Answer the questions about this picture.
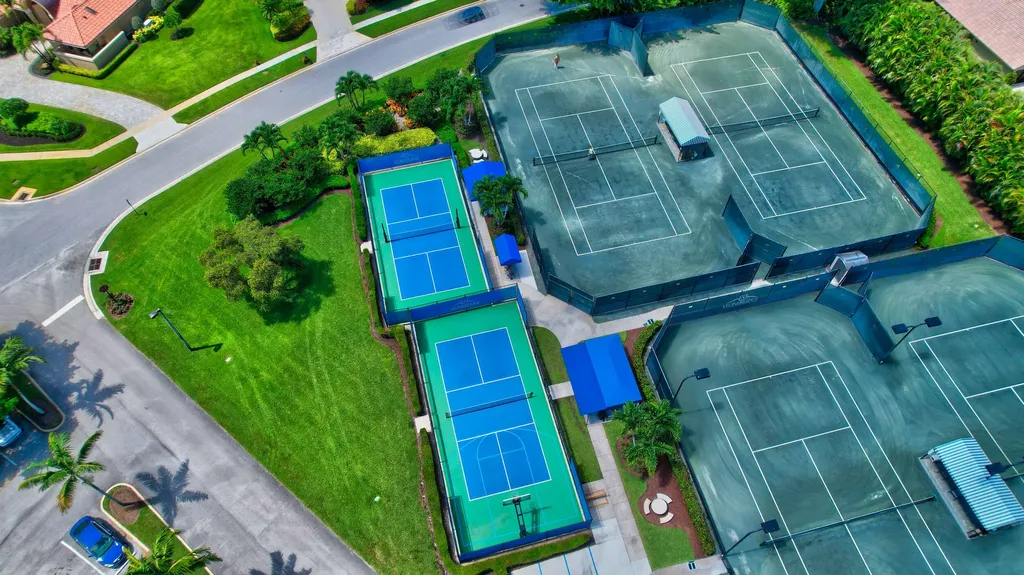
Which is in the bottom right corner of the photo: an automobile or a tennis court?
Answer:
tennis court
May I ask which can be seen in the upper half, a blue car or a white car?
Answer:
blue car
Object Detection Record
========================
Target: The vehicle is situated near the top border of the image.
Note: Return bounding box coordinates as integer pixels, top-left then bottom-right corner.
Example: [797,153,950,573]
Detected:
[453,6,490,28]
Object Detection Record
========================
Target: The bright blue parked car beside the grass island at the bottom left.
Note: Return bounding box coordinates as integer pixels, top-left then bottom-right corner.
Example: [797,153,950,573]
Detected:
[68,514,125,571]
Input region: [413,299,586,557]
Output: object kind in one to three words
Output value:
sports court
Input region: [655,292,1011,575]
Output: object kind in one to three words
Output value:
tennis court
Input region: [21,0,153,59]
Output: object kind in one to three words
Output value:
house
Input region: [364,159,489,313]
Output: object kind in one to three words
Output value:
sports court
